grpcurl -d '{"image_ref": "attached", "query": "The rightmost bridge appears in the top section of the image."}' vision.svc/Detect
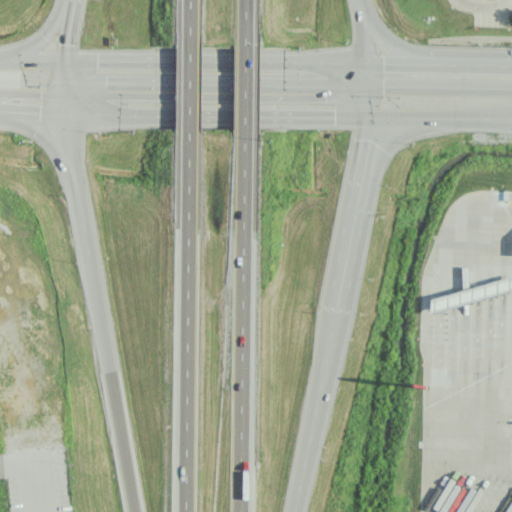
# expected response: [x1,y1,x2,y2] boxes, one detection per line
[233,44,260,134]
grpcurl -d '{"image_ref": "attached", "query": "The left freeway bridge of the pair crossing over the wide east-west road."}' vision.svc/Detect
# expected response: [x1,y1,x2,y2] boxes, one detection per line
[174,44,203,134]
